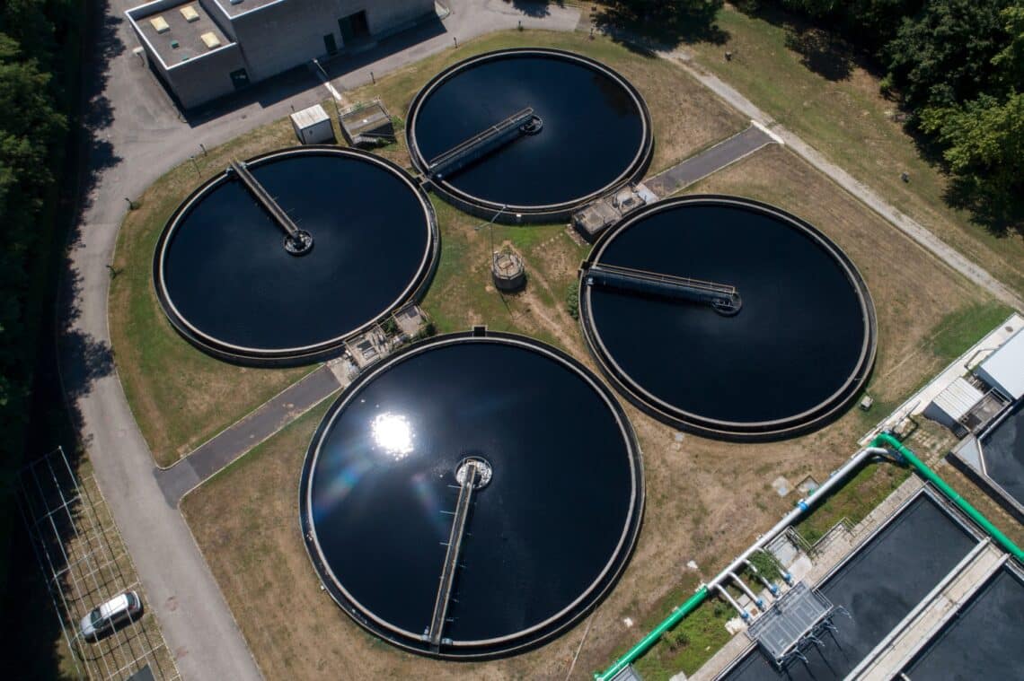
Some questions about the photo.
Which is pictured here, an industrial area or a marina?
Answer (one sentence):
This looks like an industrial area.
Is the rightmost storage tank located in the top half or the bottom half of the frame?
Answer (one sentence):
The bottom half of the photo is where the rightmost storage tank is.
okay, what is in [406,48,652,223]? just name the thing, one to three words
storage tank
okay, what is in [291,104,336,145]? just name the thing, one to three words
building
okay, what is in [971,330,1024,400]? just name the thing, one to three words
building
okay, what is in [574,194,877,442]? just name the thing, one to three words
storage tank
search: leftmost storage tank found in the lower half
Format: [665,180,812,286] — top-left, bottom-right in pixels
[300,324,646,662]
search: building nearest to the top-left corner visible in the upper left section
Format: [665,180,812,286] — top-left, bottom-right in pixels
[127,0,253,109]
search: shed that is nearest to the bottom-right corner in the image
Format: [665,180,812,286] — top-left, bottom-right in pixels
[924,378,985,431]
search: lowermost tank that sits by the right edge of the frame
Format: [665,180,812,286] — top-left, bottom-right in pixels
[943,397,1024,535]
